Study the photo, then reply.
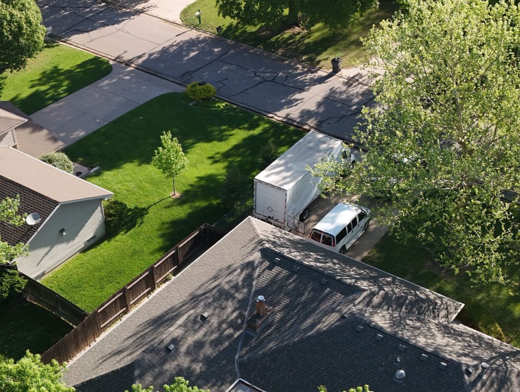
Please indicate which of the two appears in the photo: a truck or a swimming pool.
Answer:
truck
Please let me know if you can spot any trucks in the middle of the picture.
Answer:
Yes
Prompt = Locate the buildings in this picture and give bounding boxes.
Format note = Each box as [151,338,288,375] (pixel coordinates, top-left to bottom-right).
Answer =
[0,100,116,283]
[39,214,520,392]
